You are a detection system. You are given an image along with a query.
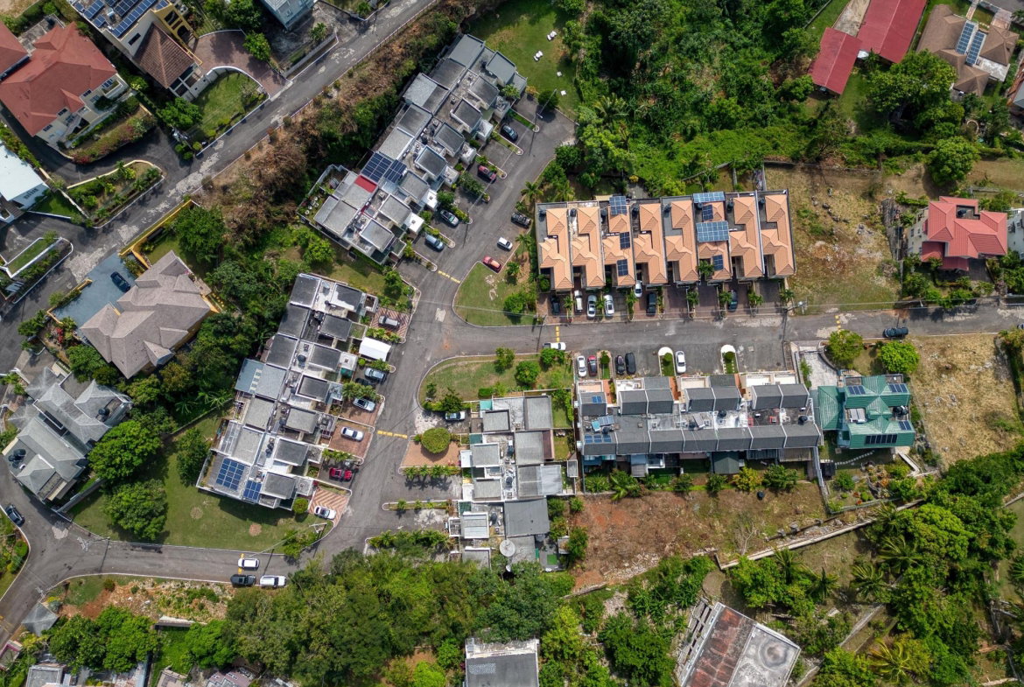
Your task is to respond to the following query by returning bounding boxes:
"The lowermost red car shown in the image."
[328,465,354,482]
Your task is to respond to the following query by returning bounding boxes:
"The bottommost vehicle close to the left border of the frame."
[3,503,28,528]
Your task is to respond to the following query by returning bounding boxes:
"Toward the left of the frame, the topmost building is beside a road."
[262,0,322,36]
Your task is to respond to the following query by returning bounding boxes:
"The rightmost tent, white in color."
[359,338,392,362]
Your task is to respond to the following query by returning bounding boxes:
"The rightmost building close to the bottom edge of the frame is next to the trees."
[668,593,801,687]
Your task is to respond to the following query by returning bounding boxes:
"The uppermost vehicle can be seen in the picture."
[500,123,519,142]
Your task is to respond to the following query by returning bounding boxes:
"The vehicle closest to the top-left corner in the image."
[109,270,134,294]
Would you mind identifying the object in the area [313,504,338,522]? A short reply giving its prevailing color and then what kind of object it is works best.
white car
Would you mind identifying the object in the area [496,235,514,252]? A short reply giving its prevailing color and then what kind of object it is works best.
white car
